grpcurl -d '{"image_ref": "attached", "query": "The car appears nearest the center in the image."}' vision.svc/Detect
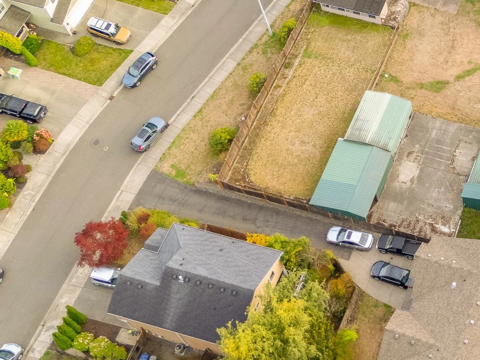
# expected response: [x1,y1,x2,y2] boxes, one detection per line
[130,117,167,154]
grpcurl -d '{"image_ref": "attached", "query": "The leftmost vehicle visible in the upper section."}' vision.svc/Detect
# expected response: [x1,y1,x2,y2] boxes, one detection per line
[0,94,48,122]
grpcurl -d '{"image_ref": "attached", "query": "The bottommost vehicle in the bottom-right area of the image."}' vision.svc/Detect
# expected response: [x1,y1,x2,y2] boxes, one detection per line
[368,263,412,292]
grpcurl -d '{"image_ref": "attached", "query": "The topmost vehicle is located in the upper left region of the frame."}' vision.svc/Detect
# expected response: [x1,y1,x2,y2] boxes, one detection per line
[85,15,132,44]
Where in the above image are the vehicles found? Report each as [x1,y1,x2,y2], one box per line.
[82,264,126,289]
[373,233,426,262]
[326,228,375,254]
[368,263,412,292]
[0,344,26,360]
[0,94,48,122]
[85,15,132,44]
[123,50,158,87]
[130,117,167,154]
